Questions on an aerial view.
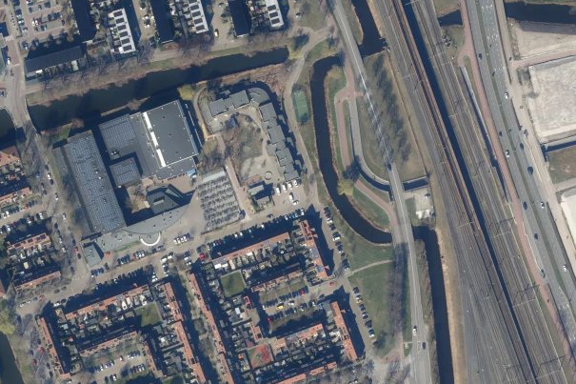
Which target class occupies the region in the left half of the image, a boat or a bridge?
bridge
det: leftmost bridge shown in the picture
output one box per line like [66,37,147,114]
[7,93,40,151]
